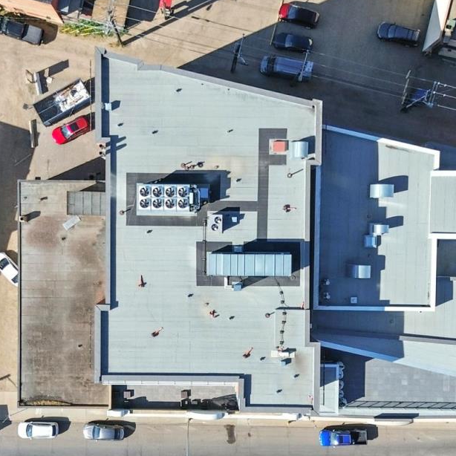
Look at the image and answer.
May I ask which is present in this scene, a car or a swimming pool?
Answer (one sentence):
Visible in the photo is a car.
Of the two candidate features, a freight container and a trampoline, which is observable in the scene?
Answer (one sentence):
Of the two, only a freight container appears.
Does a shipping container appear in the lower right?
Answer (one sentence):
No, looking in the lower right, there is no shipping container.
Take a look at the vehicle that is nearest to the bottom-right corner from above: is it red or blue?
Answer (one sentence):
In this view, the vehicle that is nearest to the bottom-right corner is blue.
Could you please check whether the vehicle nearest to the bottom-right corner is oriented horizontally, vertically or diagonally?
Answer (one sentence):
The vehicle nearest to the bottom-right corner is oriented horizontally.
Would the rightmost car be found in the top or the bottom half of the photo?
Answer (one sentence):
The rightmost car sits in the top half of the picture.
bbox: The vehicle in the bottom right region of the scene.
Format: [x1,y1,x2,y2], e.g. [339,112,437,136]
[319,428,368,449]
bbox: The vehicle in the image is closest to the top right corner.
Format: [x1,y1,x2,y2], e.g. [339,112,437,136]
[377,22,421,45]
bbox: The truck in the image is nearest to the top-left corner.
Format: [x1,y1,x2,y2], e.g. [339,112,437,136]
[0,15,44,44]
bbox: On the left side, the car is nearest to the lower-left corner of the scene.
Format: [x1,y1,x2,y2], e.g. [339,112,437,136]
[19,420,59,441]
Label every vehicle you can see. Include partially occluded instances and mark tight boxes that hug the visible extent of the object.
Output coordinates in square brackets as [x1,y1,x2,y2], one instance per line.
[377,22,421,45]
[319,428,368,449]
[278,5,320,27]
[273,31,313,53]
[19,420,59,441]
[52,115,91,144]
[0,15,44,44]
[85,422,125,442]
[0,252,19,291]
[261,53,313,79]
